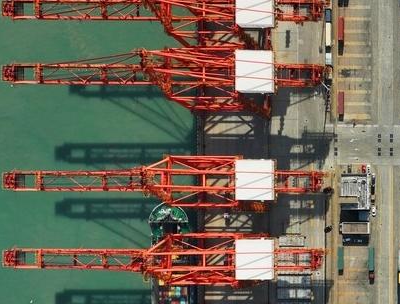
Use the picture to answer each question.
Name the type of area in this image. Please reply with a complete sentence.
This image shows a port.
